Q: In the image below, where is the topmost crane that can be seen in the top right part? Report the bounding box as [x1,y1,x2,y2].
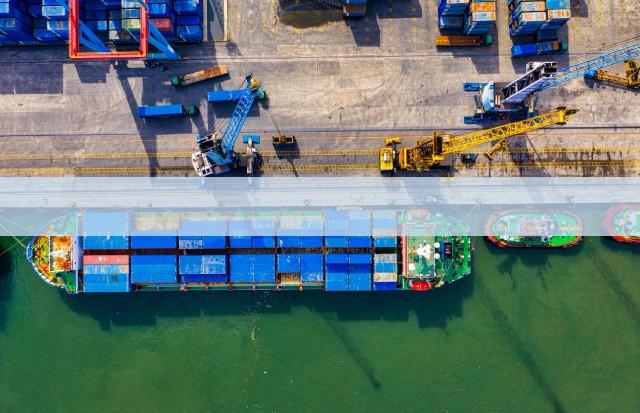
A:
[463,40,640,125]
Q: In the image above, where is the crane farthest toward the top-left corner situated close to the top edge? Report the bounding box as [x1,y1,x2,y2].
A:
[64,0,181,67]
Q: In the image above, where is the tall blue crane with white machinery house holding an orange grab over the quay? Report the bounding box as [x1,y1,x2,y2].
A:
[191,73,269,181]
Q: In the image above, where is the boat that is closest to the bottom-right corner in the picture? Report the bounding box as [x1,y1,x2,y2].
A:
[602,204,640,246]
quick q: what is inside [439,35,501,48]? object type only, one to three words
vehicle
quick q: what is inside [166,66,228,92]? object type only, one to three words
truck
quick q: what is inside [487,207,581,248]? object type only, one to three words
boat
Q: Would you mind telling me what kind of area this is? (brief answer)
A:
port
